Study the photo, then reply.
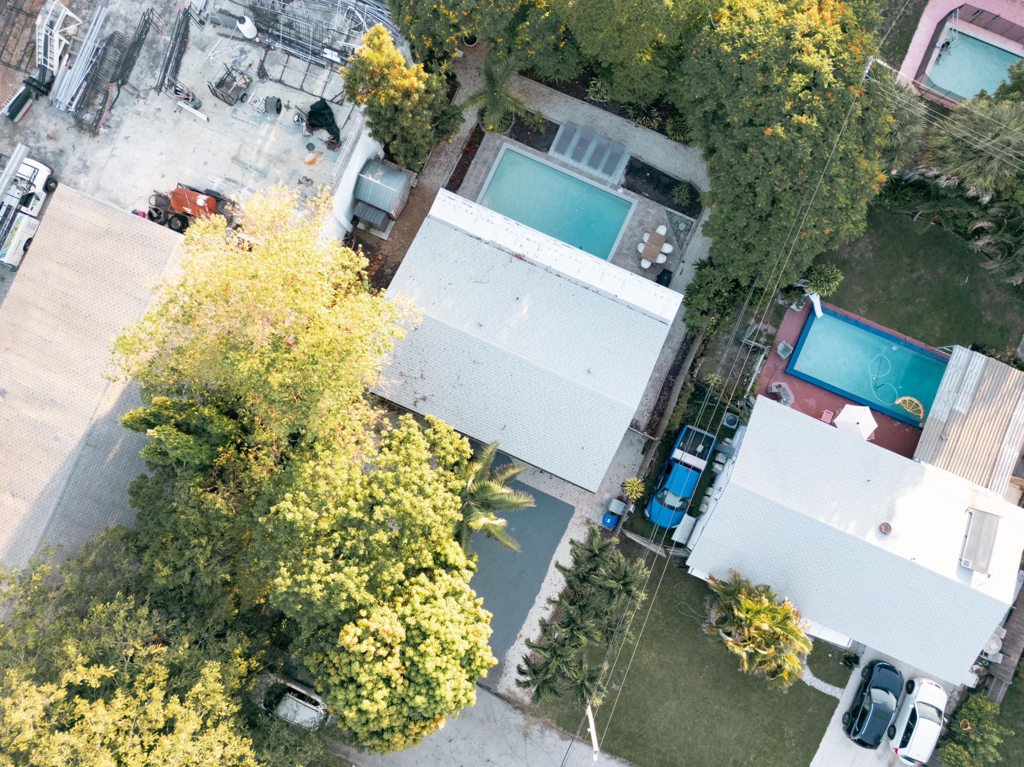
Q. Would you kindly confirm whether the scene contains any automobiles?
Yes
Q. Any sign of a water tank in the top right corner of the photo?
No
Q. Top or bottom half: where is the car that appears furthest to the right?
bottom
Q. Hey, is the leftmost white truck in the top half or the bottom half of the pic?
top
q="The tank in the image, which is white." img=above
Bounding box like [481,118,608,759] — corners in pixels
[228,11,254,41]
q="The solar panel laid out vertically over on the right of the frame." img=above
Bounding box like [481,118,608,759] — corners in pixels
[959,500,1005,596]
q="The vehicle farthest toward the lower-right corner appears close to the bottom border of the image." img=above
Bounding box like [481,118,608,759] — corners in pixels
[882,671,955,767]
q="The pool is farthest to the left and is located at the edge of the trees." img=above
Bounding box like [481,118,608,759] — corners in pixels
[477,142,637,259]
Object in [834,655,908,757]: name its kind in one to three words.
car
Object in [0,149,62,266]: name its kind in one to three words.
truck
